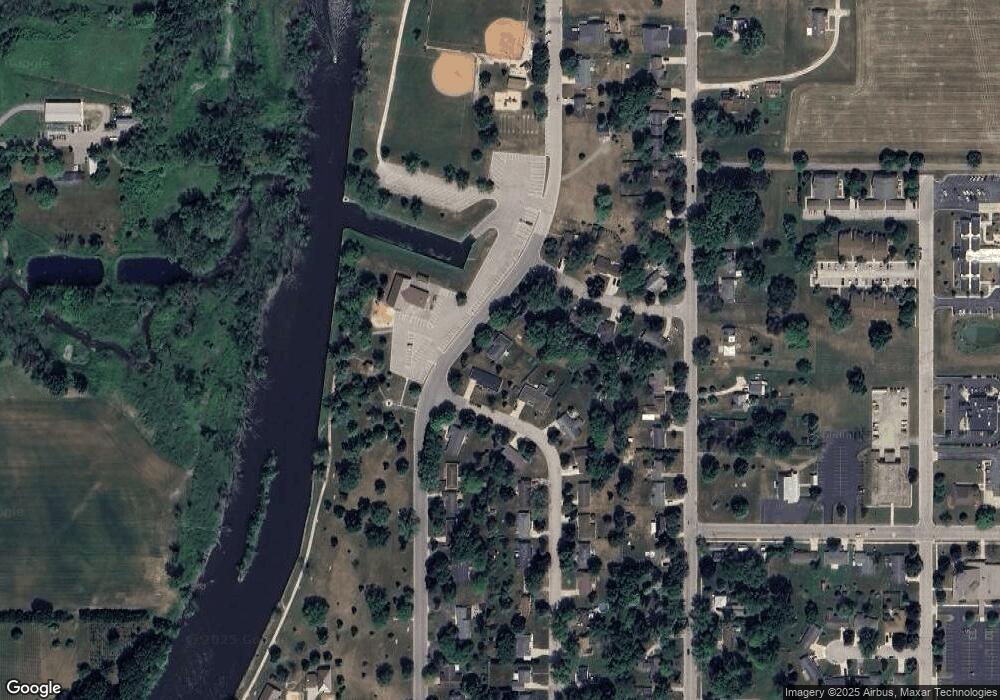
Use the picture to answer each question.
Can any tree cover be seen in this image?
Yes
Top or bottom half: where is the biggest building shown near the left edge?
top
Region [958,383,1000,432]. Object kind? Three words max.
building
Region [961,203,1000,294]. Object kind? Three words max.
house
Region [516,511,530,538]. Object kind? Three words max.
house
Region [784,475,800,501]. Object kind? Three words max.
building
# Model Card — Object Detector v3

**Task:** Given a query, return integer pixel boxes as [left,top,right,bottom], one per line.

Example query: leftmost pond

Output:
[26,256,103,290]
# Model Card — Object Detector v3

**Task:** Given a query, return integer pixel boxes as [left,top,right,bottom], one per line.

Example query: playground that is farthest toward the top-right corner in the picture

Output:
[494,92,521,110]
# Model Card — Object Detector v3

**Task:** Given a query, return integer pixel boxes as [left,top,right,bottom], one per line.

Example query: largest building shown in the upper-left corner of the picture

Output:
[44,103,81,122]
